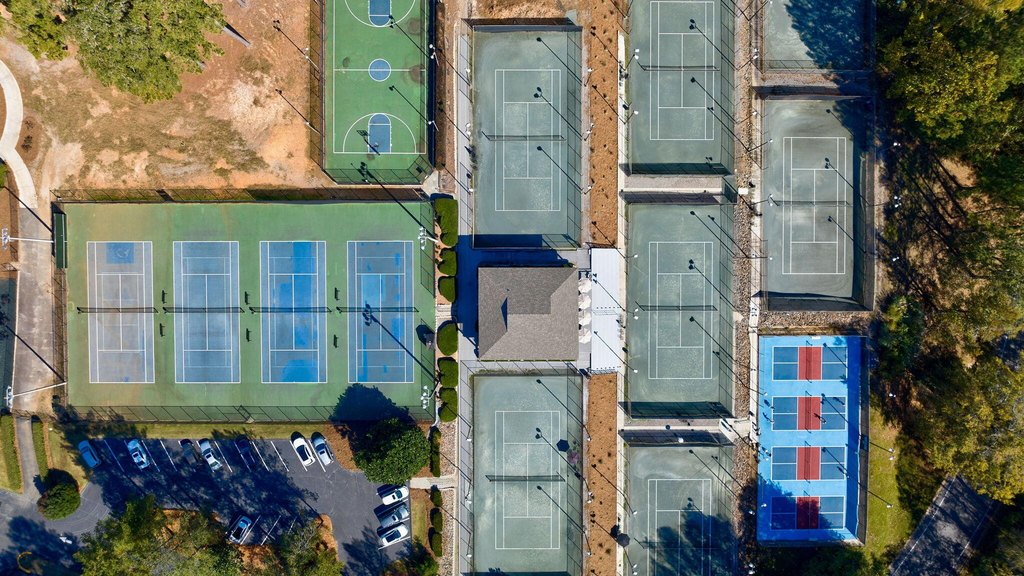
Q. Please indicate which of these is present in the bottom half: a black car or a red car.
black car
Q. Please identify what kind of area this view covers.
sports ground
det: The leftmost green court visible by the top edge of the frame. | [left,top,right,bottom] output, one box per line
[324,0,433,184]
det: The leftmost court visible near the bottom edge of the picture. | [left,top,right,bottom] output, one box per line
[473,376,583,576]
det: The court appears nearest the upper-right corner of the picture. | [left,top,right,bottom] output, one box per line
[763,0,865,69]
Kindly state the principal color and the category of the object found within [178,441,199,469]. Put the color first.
black car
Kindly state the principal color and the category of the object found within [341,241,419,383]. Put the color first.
blue tennis court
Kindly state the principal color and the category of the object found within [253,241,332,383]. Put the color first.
blue tennis court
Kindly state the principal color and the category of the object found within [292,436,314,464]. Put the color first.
white car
